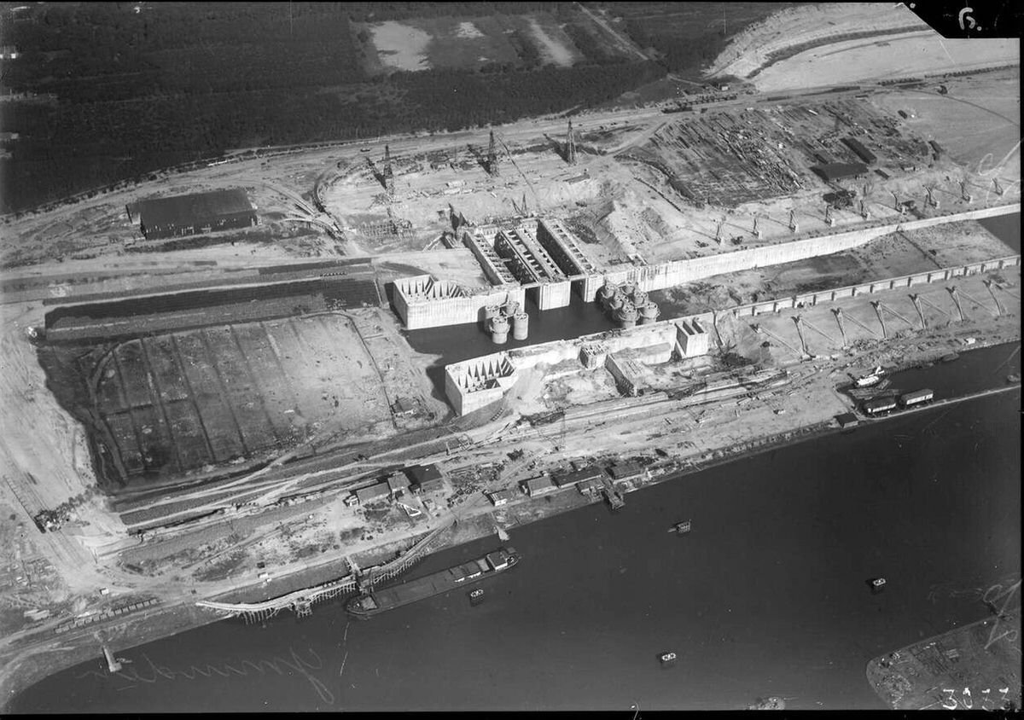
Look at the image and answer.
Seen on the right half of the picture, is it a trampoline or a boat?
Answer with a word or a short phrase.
boat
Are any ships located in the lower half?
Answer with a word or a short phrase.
Yes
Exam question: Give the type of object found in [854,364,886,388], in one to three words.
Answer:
boat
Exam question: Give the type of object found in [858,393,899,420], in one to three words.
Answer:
boat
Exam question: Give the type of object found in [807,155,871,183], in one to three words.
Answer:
shed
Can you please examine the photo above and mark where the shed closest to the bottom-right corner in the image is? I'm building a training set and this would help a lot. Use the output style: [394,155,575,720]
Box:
[831,408,861,429]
